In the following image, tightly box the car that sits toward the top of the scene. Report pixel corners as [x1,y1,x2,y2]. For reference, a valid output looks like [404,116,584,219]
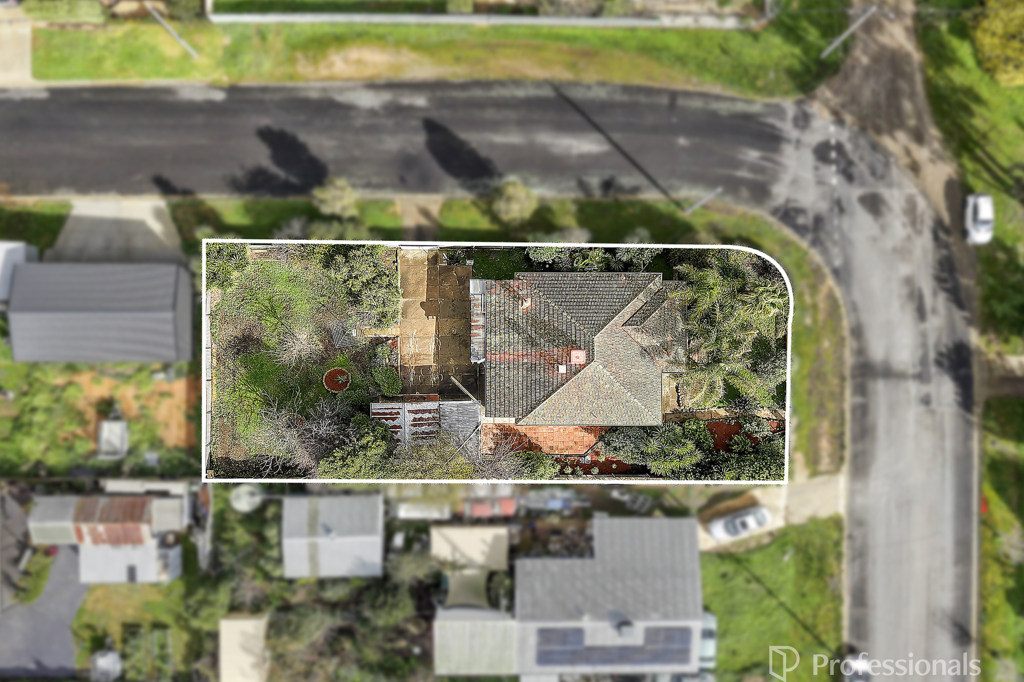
[961,191,994,246]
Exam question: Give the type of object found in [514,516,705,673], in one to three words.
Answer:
house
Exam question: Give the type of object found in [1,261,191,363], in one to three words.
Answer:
shed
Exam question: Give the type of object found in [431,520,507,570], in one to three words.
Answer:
shed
